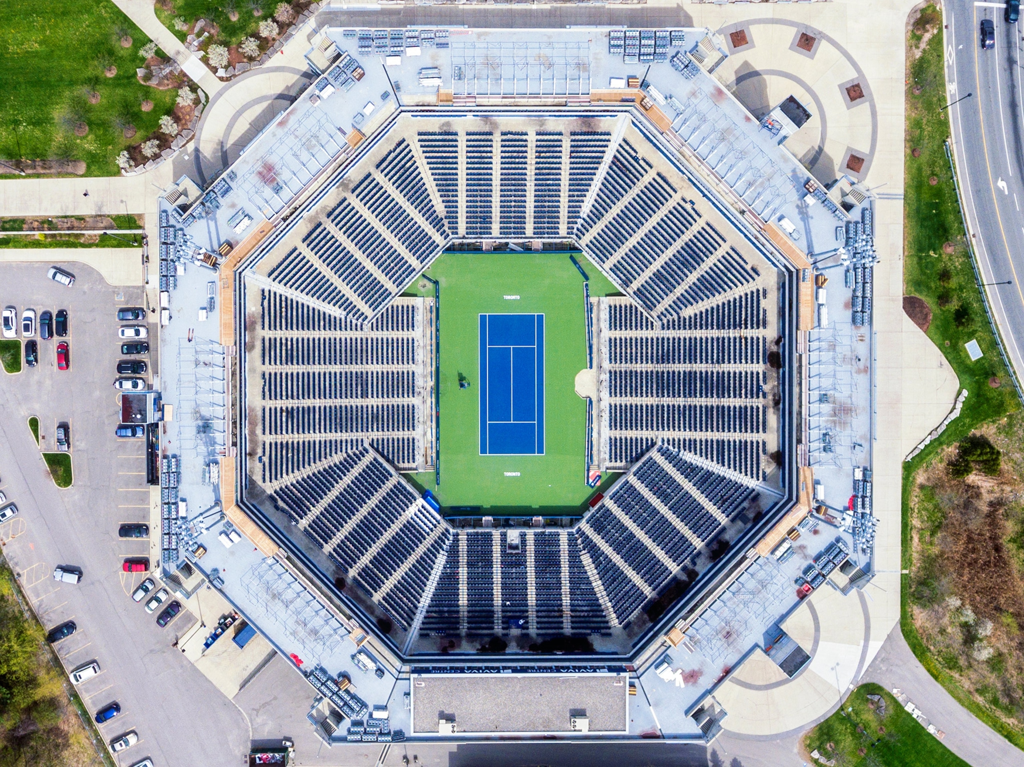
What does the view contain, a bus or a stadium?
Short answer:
stadium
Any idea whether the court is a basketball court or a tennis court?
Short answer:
tennis court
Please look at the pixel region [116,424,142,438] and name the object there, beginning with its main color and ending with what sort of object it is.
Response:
blue car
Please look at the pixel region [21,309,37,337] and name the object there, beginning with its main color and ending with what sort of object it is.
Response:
white car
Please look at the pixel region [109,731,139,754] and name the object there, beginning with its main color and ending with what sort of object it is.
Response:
white car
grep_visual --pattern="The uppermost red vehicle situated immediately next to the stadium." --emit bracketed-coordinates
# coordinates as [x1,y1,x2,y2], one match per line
[122,559,151,574]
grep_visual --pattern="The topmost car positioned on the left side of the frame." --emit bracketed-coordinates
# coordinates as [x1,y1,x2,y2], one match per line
[46,267,78,286]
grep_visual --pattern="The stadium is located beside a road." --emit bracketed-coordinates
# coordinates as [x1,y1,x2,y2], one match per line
[155,24,872,746]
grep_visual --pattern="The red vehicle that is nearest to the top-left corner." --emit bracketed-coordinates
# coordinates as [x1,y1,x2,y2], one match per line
[55,341,70,371]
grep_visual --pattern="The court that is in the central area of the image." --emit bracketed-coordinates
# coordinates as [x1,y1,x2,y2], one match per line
[398,240,629,528]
